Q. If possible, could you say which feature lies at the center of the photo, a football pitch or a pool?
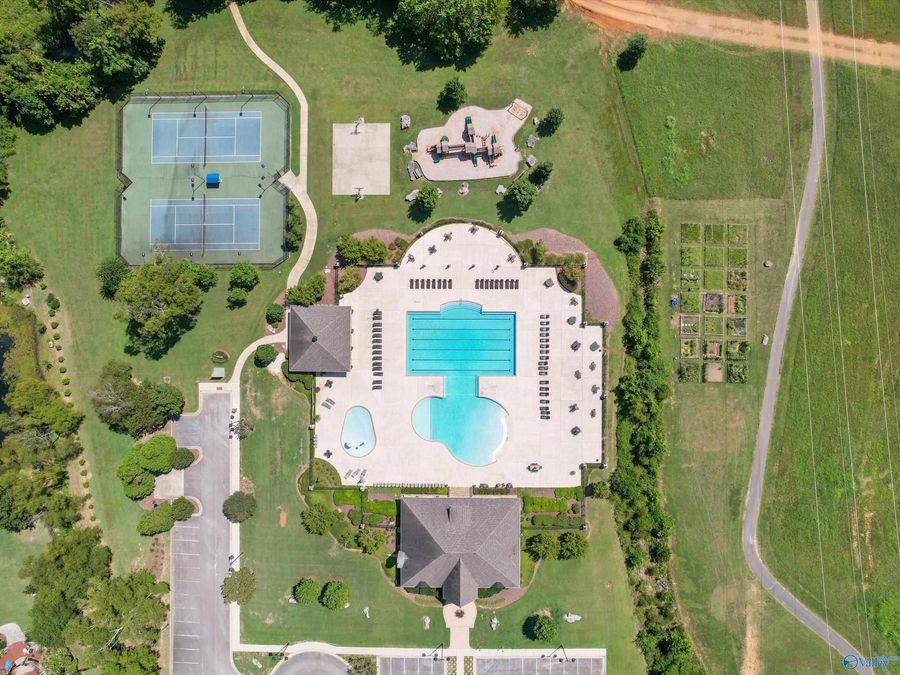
pool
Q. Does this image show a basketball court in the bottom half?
No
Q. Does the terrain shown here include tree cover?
Yes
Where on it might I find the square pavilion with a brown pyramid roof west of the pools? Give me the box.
[289,303,352,372]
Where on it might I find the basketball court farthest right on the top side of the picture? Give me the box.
[332,123,390,195]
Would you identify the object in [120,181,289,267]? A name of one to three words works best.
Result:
tennis court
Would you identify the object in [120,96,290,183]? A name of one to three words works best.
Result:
tennis court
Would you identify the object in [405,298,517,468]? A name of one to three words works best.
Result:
swimming pool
